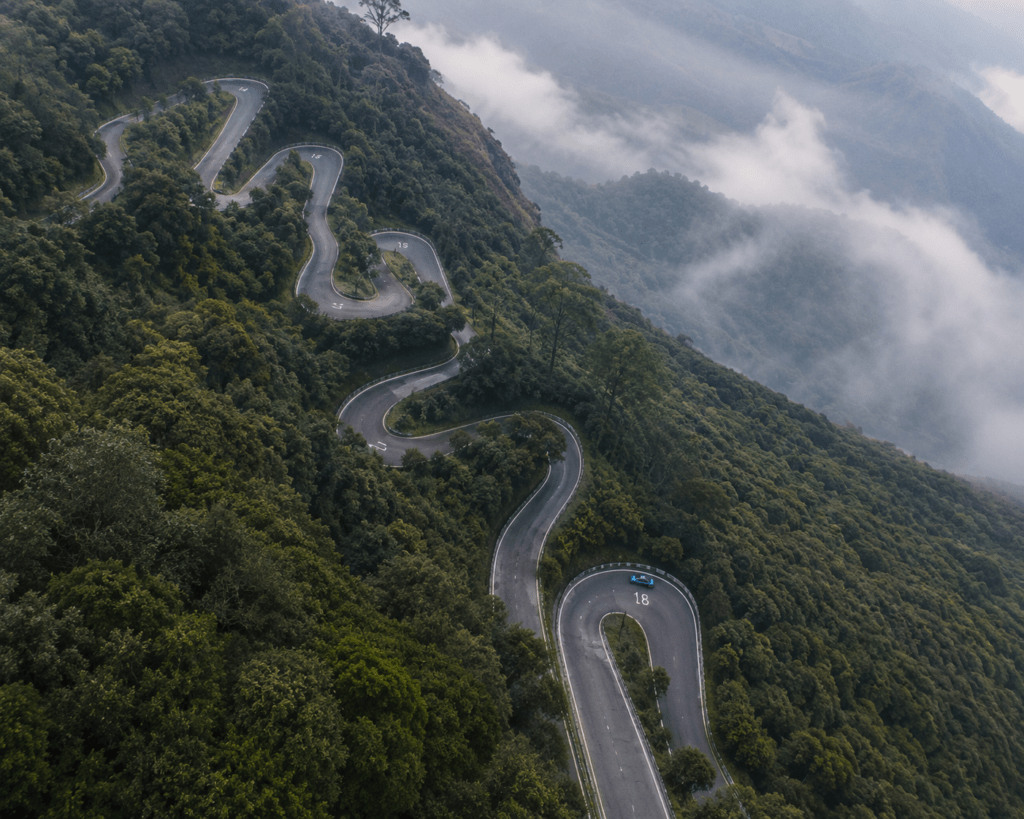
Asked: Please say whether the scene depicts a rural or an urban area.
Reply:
rural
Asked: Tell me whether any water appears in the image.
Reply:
No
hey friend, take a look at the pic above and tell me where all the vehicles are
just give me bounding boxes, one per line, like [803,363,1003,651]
[633,572,654,587]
